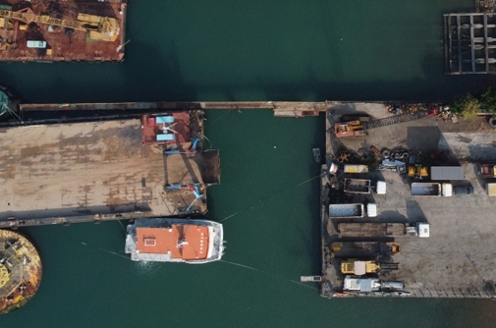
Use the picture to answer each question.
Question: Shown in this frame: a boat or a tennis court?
boat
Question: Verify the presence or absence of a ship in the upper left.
Yes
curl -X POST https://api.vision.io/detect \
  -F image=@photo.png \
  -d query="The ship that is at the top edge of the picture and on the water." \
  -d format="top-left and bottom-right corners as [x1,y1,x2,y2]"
[0,0,129,65]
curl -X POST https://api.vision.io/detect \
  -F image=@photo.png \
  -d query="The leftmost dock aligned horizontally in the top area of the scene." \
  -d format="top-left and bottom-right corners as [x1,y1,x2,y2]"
[12,101,326,116]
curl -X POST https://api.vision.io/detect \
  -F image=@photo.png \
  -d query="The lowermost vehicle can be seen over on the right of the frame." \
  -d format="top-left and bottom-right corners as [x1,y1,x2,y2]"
[344,276,405,294]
